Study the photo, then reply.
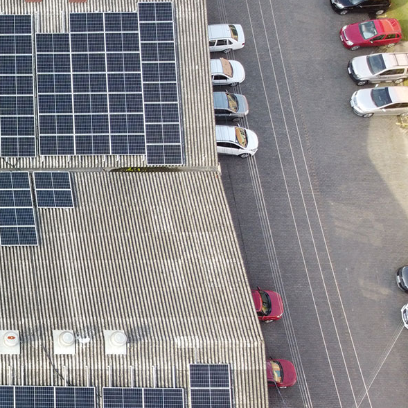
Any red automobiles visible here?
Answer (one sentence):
Yes, you can see a red automobile in this photo.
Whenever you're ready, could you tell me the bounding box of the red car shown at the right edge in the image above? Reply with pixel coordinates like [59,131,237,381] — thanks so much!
[335,14,408,50]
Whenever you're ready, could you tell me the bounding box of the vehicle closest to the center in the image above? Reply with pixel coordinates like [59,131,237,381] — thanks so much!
[215,123,259,158]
